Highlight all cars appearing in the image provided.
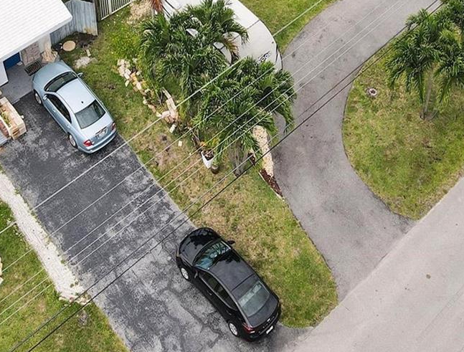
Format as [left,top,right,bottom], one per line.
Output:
[178,225,286,348]
[31,59,119,156]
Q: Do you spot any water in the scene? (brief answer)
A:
No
